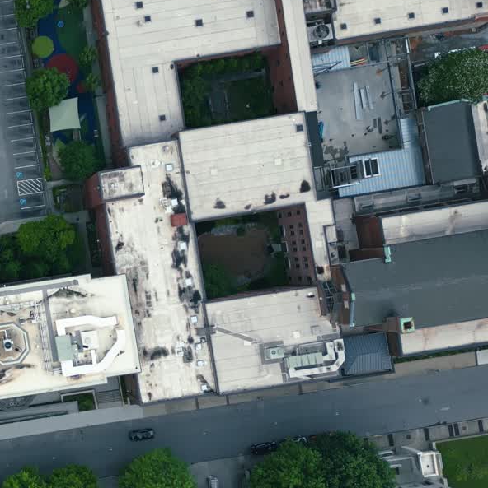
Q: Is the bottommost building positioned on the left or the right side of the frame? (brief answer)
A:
right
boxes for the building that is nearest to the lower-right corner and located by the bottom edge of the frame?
[406,445,439,476]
